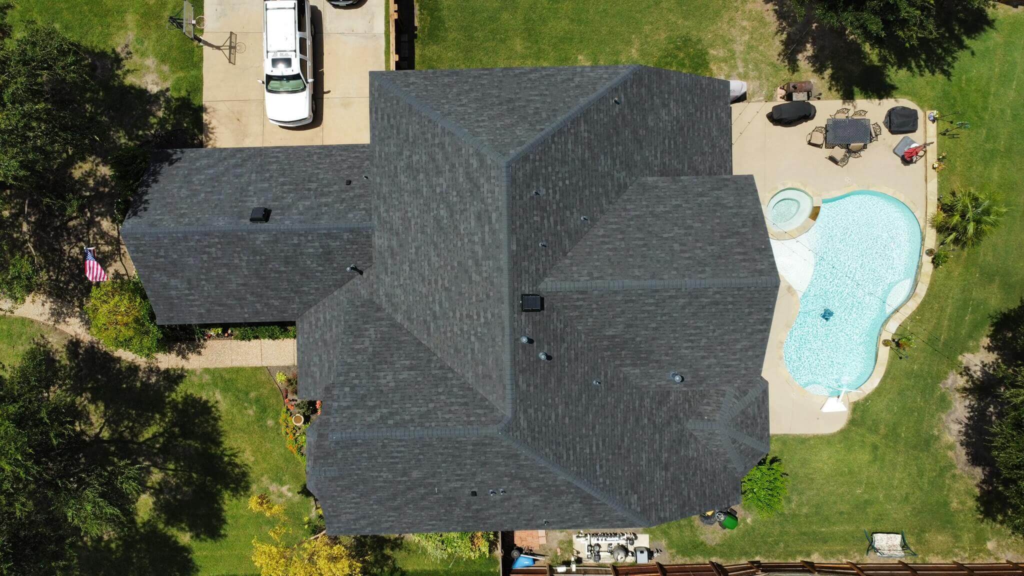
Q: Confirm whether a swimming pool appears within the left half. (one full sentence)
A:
No, no swimming pool appears within the left half.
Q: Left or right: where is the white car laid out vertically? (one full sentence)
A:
You can find the white car laid out vertically on the left side of the picture.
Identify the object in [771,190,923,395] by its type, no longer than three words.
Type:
swimming pool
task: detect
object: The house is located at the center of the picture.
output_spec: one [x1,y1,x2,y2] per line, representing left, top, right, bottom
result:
[124,64,780,534]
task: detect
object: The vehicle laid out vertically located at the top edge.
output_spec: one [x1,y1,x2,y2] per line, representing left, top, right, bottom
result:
[259,0,317,127]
